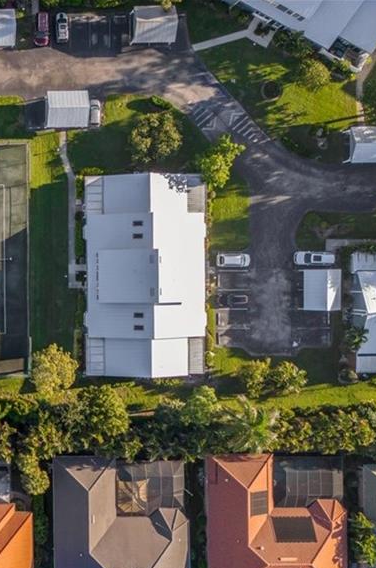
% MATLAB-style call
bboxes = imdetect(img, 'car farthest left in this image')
[34,12,50,48]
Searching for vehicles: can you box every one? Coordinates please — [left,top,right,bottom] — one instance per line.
[89,97,103,129]
[55,12,70,45]
[214,252,249,268]
[294,251,335,267]
[34,12,50,48]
